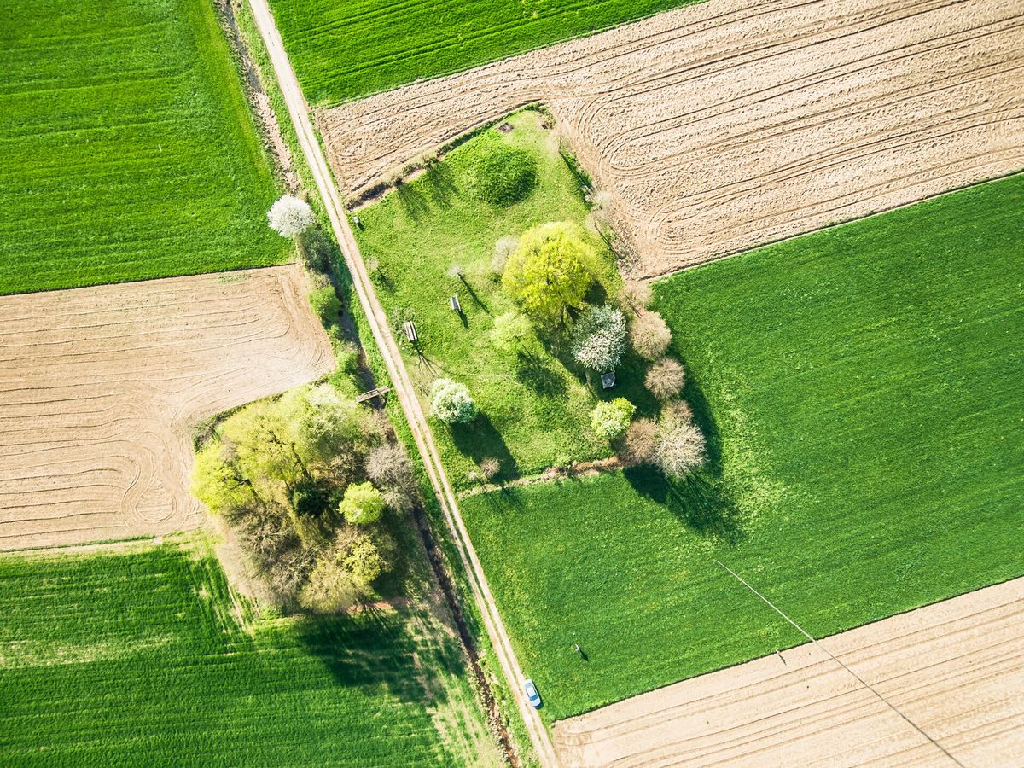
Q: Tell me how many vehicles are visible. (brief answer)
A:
1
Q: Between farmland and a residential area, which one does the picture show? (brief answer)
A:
farmland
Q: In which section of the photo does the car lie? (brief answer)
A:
bottom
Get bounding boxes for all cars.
[521,678,543,709]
